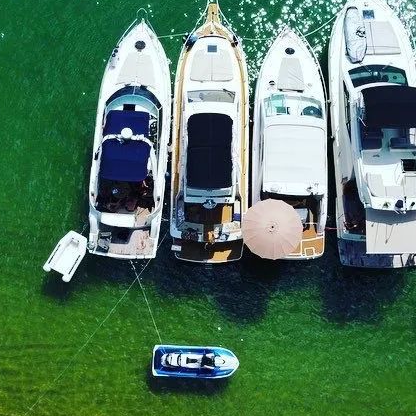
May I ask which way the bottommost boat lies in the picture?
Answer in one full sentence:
From this overhead view, the bottommost boat appears to run from left to right.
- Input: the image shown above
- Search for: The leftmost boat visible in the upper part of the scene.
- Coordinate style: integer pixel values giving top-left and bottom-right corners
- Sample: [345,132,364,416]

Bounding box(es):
[87,10,171,262]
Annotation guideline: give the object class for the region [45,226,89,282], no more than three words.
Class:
boat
